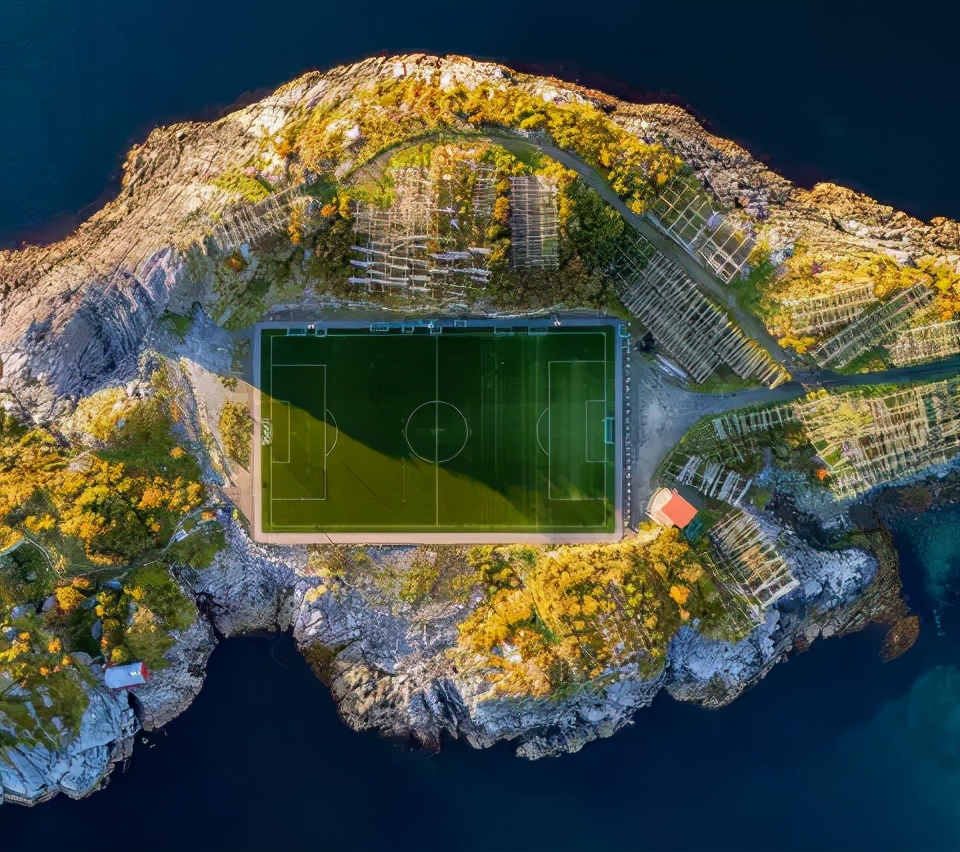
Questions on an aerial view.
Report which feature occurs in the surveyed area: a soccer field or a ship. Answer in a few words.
soccer field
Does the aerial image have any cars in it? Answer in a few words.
No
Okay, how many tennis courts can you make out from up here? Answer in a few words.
0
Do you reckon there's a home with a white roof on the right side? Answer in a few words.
No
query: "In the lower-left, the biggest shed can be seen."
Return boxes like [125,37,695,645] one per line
[106,660,153,688]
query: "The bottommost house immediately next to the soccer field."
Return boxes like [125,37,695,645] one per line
[643,486,698,529]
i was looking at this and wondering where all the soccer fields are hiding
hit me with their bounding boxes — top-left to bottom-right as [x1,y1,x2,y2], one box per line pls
[254,319,623,543]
